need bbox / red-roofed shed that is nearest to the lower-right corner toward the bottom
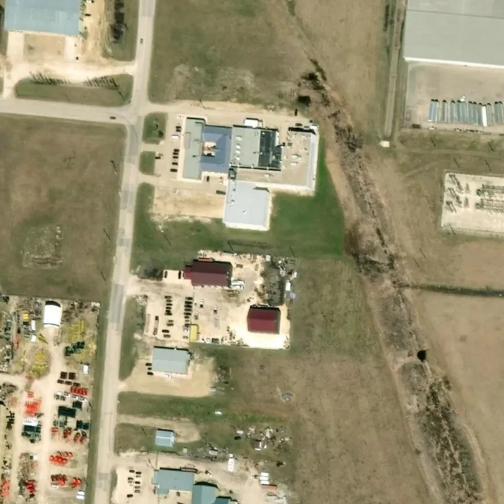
[247,307,282,336]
